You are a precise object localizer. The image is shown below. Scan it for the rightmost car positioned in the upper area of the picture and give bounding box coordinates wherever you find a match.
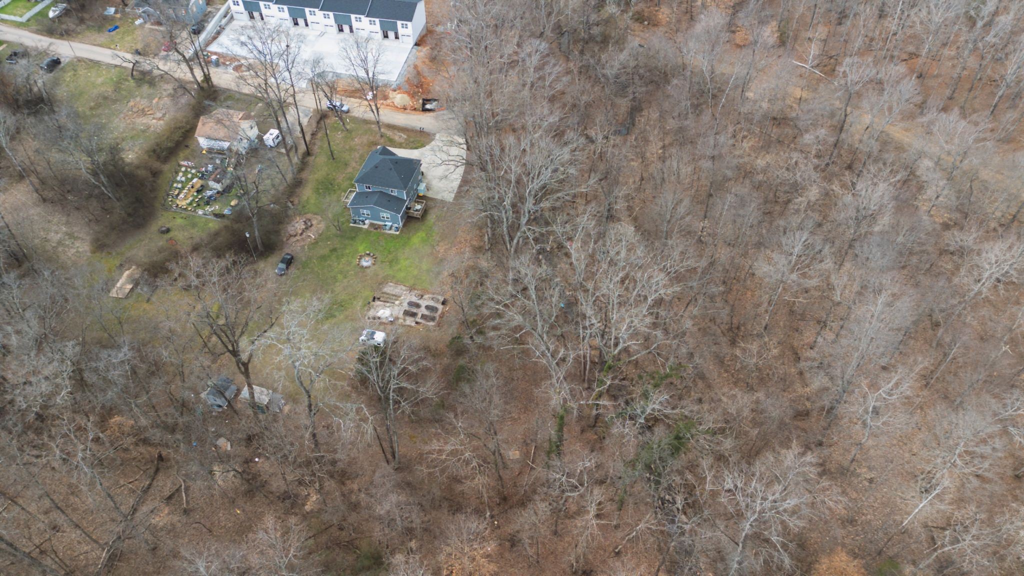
[326,100,349,114]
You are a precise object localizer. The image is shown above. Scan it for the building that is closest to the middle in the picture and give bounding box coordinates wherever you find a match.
[346,146,425,227]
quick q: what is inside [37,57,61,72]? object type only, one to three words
car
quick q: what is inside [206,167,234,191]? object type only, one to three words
shed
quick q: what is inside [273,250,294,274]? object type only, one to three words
car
